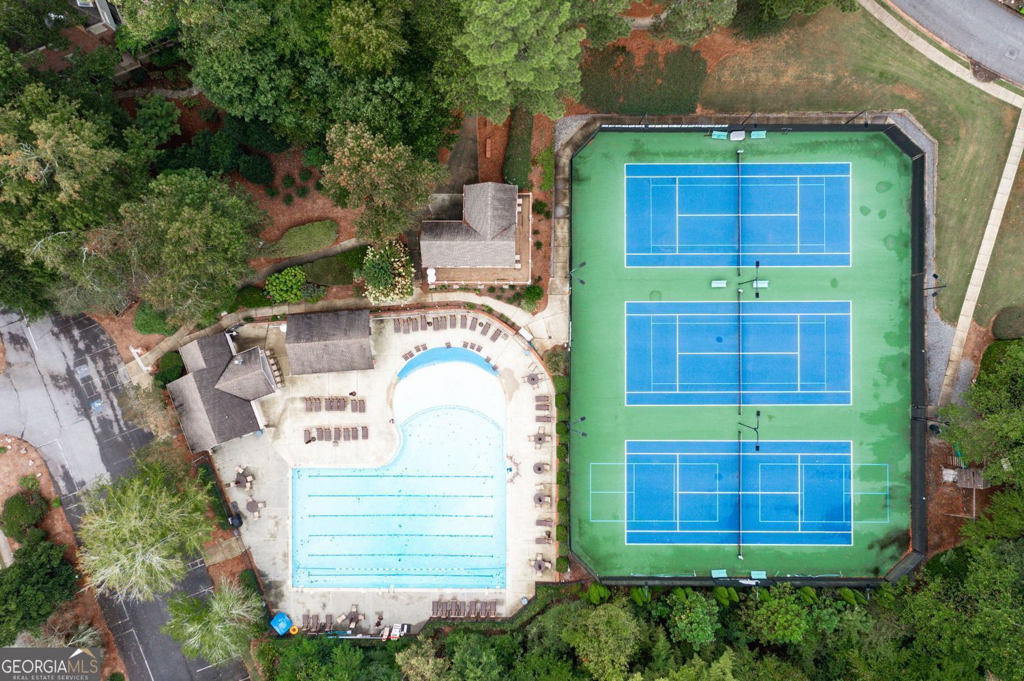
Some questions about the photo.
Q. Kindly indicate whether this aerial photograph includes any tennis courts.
Yes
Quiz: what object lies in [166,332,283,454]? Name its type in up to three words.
building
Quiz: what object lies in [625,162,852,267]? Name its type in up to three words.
tennis court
